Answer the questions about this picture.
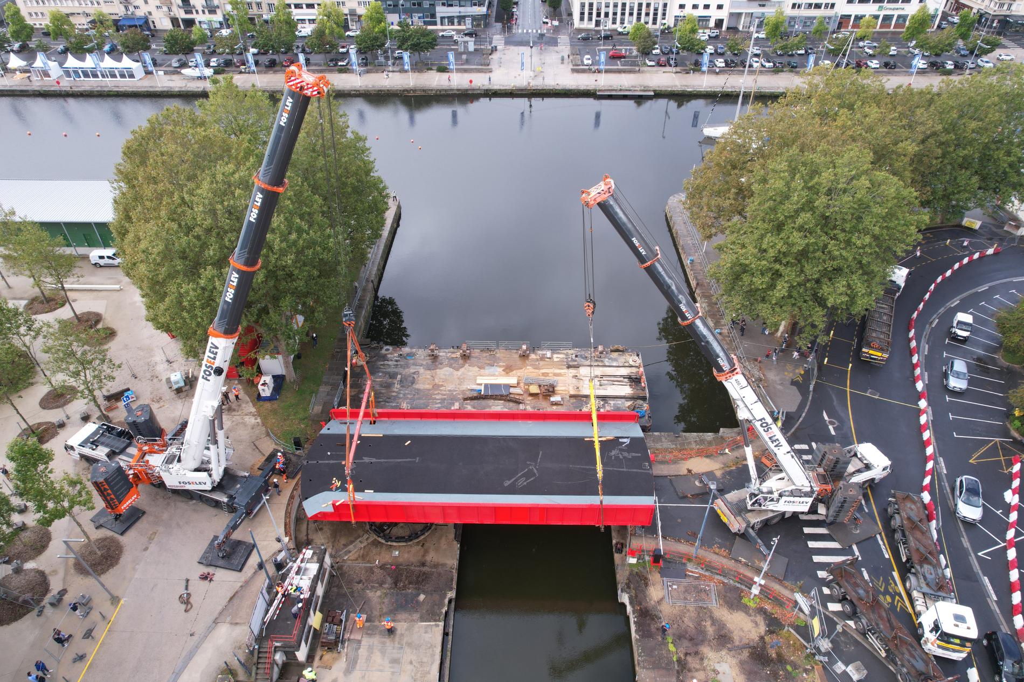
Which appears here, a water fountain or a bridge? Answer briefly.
bridge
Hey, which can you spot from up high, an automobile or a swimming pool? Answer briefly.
automobile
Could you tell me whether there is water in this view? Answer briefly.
Yes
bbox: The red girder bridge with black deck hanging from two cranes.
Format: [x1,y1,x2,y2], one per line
[301,410,655,530]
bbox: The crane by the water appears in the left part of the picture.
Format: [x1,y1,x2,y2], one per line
[63,60,358,555]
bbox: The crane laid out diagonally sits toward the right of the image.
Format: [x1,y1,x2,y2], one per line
[578,178,905,577]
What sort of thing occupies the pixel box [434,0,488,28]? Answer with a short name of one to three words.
building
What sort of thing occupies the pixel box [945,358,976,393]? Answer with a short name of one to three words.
car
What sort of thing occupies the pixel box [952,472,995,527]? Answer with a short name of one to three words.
car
